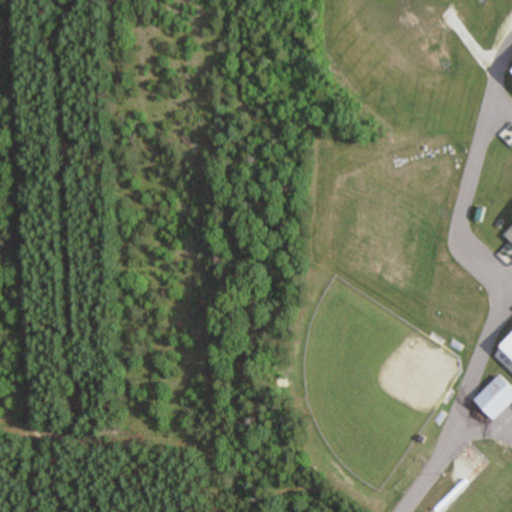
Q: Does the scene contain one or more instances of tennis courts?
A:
No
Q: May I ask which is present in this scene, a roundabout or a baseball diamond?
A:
baseball diamond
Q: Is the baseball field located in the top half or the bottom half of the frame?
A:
bottom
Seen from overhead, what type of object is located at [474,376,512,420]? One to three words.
house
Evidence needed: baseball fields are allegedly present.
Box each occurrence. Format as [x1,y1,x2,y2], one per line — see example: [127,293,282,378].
[304,278,463,490]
